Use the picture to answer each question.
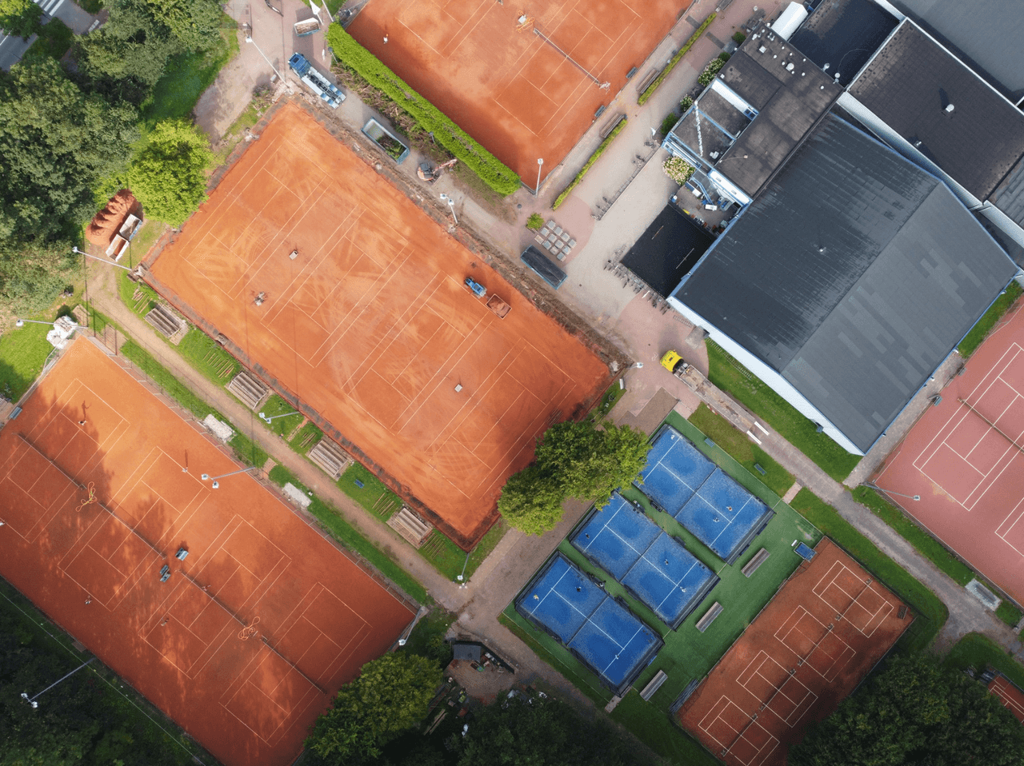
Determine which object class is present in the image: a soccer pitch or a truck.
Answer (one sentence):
The one in the frame is a truck.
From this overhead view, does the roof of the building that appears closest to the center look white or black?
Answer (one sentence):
The roof of the building that appears closest to the center looks black in the image.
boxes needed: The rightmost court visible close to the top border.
[443,0,690,187]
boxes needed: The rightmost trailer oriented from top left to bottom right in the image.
[682,365,767,442]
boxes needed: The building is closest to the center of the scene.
[617,202,718,300]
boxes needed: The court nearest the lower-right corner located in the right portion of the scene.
[980,676,1024,732]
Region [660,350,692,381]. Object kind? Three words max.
truck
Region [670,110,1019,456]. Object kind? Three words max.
building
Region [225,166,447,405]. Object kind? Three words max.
tennis court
